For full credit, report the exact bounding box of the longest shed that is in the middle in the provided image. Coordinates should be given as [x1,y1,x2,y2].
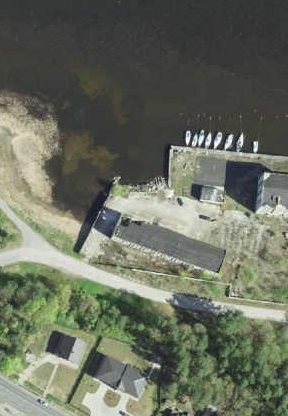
[111,220,226,276]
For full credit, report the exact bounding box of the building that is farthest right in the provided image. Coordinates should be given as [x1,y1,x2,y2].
[252,171,288,219]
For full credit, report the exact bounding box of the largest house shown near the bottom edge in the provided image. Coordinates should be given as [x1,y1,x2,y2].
[86,351,146,398]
